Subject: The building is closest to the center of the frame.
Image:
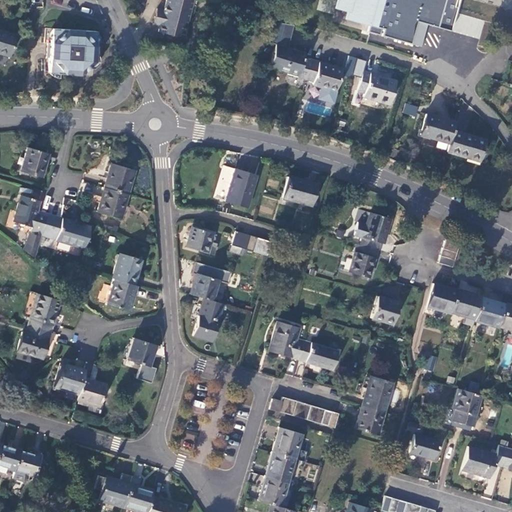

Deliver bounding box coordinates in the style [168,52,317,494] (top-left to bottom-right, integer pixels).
[228,232,270,258]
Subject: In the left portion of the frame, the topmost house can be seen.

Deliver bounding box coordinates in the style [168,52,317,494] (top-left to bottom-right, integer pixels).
[149,0,194,41]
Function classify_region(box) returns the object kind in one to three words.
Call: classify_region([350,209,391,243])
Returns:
house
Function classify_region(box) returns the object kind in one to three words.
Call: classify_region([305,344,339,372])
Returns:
house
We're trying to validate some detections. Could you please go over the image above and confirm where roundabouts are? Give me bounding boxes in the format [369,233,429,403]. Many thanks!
[132,102,176,146]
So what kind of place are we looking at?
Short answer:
residential area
